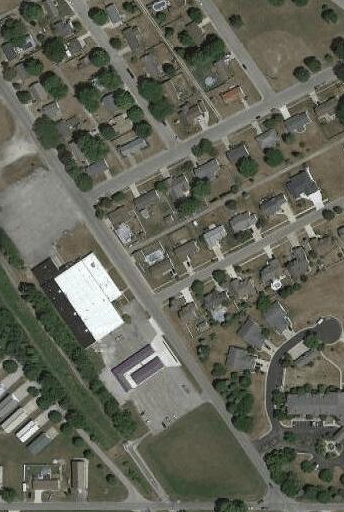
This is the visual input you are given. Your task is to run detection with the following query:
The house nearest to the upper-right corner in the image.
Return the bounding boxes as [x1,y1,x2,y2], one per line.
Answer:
[313,95,340,121]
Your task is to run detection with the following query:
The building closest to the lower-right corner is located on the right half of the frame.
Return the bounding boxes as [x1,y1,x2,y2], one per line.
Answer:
[285,393,344,445]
